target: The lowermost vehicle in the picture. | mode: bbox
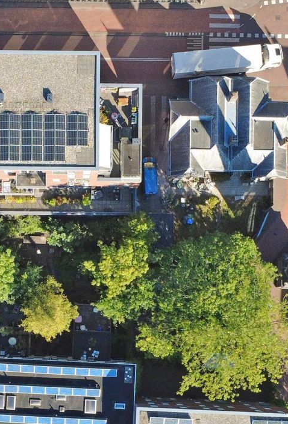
[142,159,158,197]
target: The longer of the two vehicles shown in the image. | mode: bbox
[171,43,280,79]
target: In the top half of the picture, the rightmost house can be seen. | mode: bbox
[165,79,288,183]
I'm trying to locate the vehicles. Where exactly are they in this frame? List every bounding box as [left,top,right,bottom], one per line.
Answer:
[171,43,280,79]
[142,159,158,197]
